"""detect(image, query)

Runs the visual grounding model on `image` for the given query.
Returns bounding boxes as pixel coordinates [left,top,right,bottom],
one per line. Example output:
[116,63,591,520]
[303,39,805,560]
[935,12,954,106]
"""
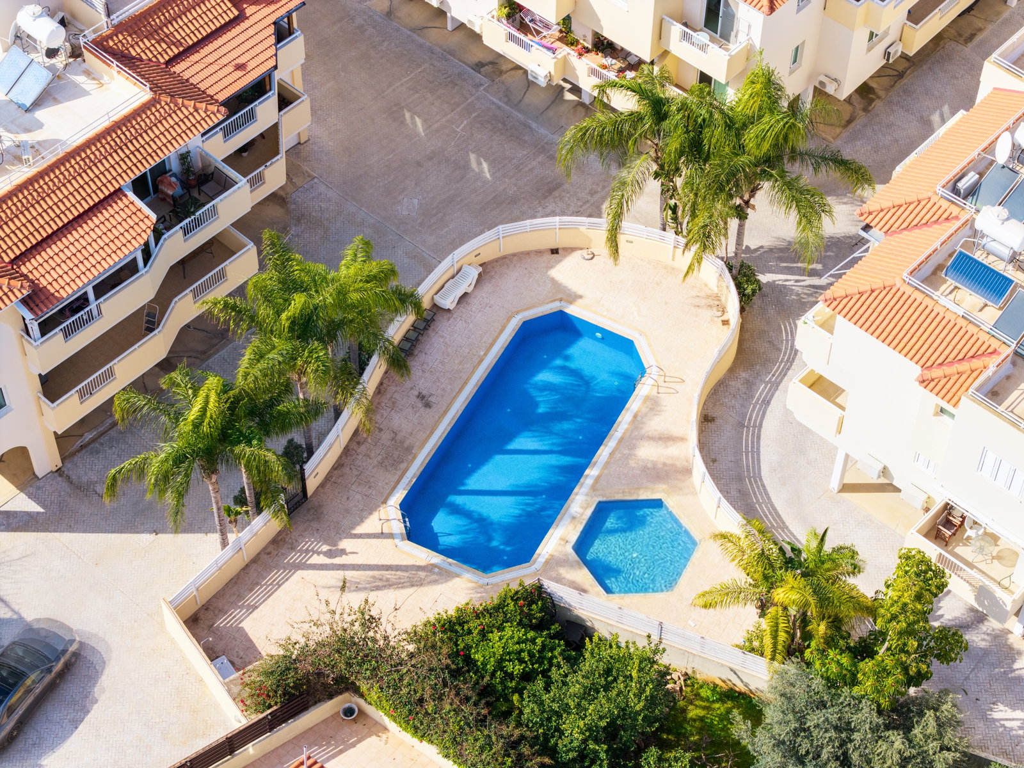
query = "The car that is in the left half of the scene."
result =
[0,616,79,750]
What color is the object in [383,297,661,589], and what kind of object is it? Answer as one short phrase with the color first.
blue swimming pool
